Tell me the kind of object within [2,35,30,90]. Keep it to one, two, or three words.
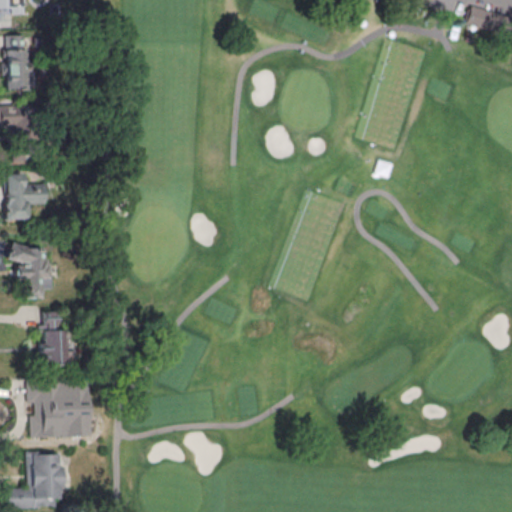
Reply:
house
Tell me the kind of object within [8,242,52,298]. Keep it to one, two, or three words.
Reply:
house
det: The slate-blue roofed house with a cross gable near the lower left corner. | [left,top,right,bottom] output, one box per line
[12,452,66,510]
